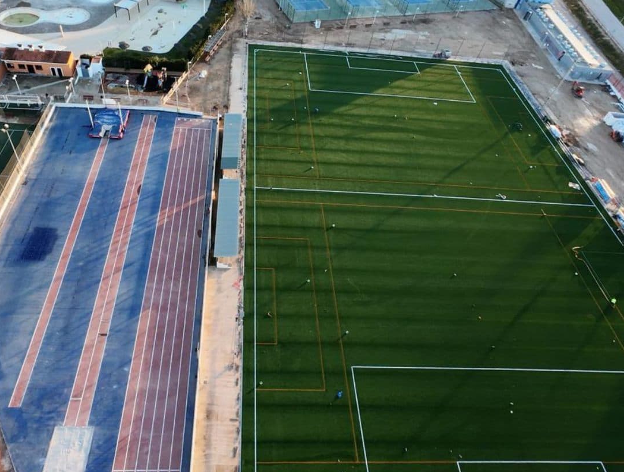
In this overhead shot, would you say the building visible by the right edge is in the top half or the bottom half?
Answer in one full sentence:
You can find the building visible by the right edge in the top half.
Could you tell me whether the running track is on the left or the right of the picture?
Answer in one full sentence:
It is on the left.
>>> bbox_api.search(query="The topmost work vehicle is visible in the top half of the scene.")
[566,83,588,97]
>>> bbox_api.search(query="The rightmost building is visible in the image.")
[516,0,618,81]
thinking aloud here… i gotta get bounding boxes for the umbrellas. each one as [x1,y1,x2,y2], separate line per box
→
[117,40,130,50]
[140,43,152,54]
